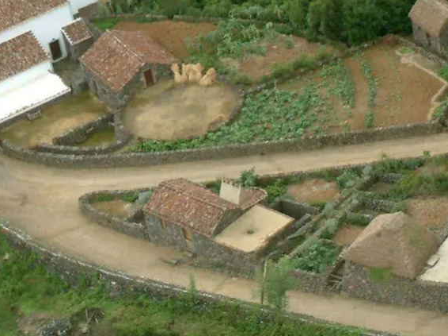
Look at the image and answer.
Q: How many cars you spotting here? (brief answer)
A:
0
